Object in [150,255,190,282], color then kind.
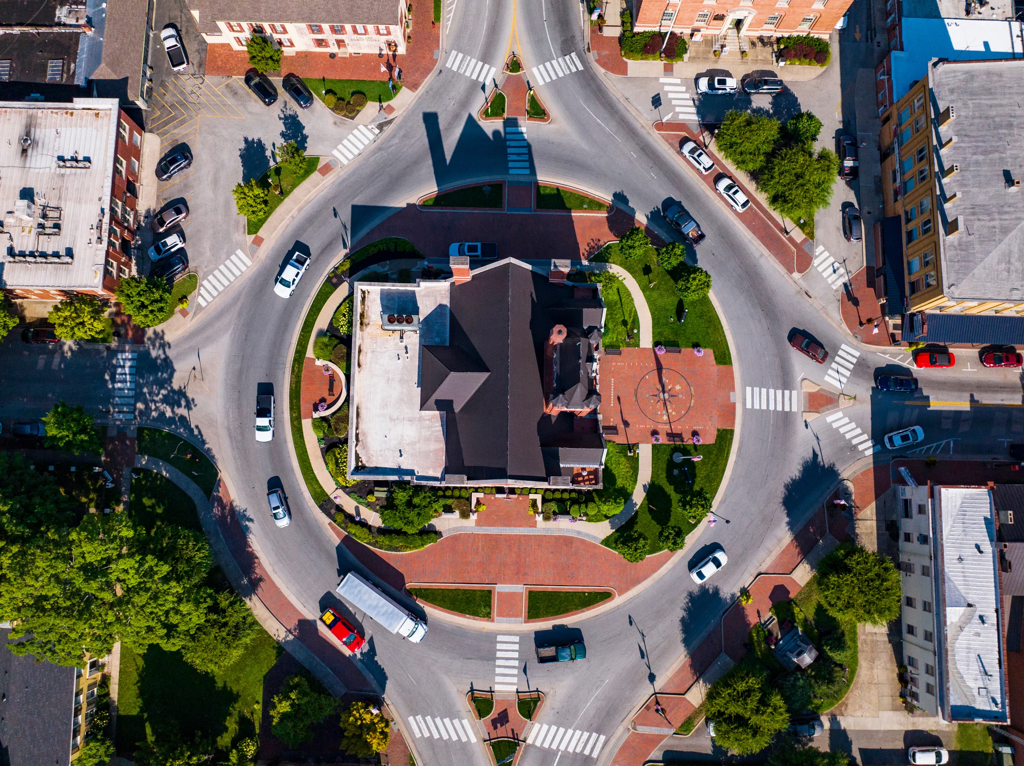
black car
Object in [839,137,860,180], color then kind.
black truck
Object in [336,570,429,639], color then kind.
white truck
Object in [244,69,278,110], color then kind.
black car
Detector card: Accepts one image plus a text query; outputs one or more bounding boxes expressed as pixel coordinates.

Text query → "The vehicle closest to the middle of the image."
[450,240,497,260]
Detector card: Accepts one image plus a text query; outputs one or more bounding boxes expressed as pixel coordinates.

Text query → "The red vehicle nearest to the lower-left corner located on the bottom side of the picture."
[319,608,363,650]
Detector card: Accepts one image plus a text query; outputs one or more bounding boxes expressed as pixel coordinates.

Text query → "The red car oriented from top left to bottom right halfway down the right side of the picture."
[788,334,829,365]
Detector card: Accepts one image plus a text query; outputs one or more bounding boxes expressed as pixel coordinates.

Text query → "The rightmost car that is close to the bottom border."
[906,745,947,766]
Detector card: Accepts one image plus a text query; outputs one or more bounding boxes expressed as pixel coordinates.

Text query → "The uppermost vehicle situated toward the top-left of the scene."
[162,28,189,73]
